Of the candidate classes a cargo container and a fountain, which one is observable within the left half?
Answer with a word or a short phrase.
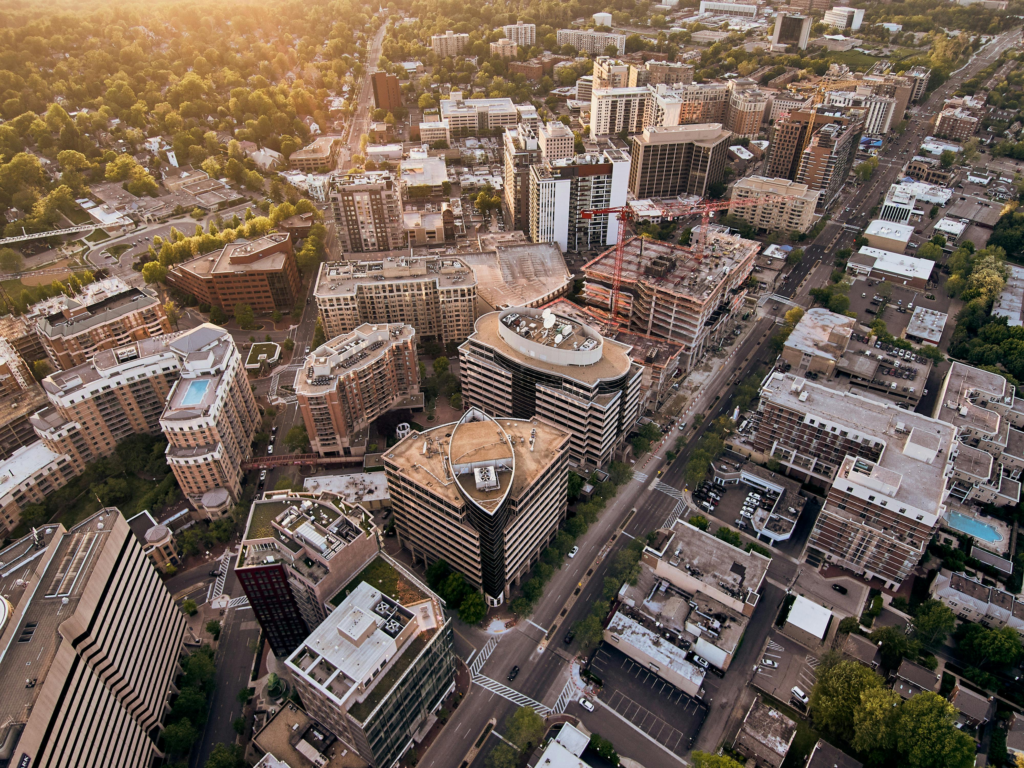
fountain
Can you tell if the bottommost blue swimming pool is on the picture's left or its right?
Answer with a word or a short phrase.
right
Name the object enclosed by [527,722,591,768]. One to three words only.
building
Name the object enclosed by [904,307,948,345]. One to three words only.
building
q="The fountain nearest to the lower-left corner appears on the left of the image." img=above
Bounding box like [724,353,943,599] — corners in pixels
[255,669,294,707]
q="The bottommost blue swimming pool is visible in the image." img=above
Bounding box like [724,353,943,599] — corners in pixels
[942,507,1005,545]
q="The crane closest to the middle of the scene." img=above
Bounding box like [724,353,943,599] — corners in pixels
[581,198,705,267]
